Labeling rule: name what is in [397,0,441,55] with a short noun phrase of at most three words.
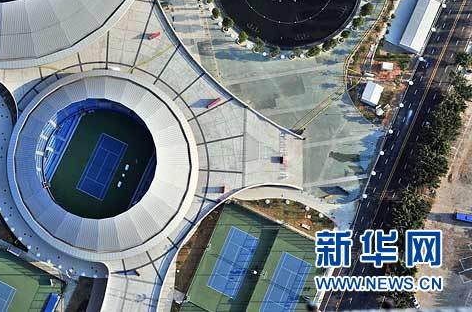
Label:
shed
